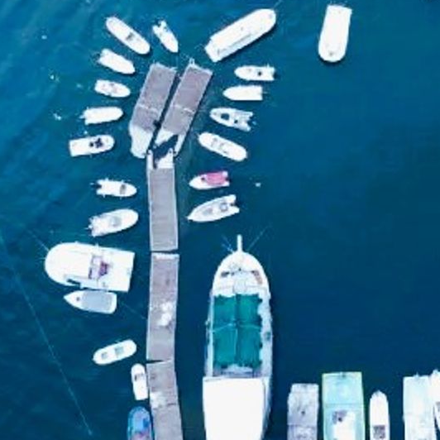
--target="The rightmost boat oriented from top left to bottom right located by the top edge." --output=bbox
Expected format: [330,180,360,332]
[154,19,177,52]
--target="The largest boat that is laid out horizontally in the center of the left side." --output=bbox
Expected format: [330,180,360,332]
[42,241,139,292]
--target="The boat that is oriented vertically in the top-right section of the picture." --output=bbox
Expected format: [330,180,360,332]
[320,1,349,62]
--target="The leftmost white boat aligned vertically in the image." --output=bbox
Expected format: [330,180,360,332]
[131,365,148,400]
